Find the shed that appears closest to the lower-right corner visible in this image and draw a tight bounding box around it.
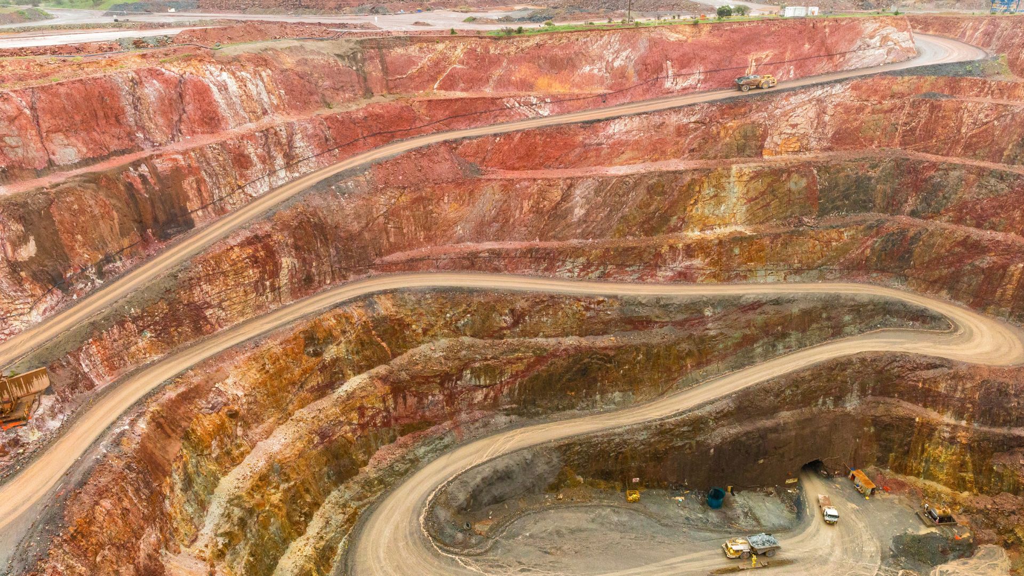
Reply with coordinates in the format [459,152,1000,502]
[848,464,880,494]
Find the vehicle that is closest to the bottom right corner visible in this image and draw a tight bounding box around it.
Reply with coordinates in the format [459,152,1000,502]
[817,489,844,523]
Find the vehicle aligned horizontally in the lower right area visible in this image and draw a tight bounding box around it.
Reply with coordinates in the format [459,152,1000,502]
[724,534,788,561]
